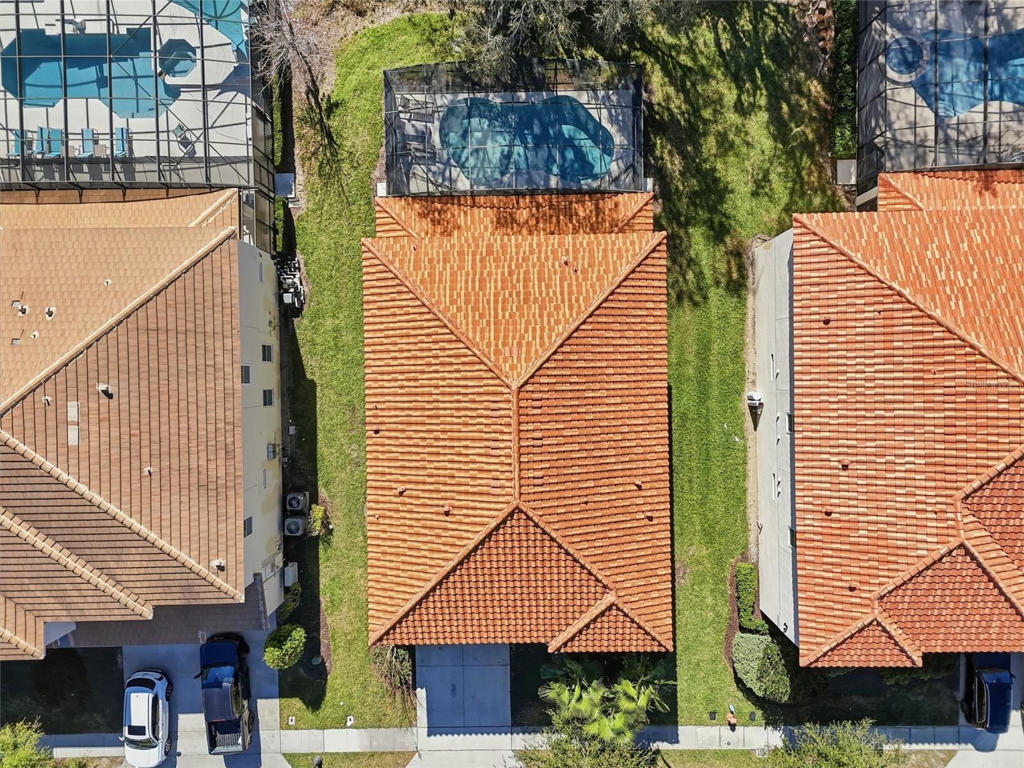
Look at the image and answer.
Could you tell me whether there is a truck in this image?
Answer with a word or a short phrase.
Yes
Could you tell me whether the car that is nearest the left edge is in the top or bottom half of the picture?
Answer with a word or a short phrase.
bottom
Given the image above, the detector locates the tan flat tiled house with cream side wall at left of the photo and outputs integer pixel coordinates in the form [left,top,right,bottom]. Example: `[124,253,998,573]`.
[0,187,284,664]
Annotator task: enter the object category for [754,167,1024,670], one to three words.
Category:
house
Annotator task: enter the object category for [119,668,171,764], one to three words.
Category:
car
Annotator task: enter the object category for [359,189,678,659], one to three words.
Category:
house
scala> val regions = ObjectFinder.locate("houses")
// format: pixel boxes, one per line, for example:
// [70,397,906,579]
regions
[0,187,284,664]
[359,189,678,659]
[754,167,1024,670]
